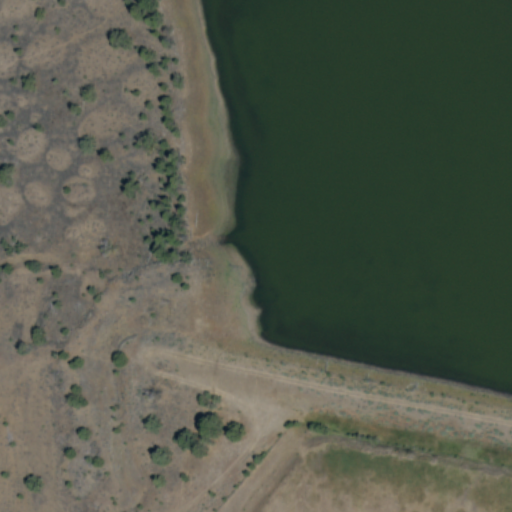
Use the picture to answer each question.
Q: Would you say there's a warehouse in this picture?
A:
No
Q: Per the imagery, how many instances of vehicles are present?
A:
0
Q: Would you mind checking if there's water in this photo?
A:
Yes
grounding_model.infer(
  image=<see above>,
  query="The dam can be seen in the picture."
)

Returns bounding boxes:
[138,336,512,446]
